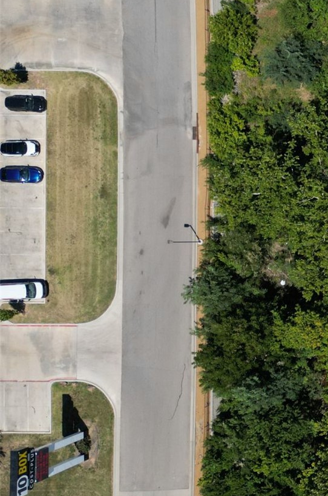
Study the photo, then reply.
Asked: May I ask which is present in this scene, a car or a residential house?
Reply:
car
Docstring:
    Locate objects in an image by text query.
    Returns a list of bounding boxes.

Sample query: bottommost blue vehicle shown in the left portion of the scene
[3,166,48,184]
